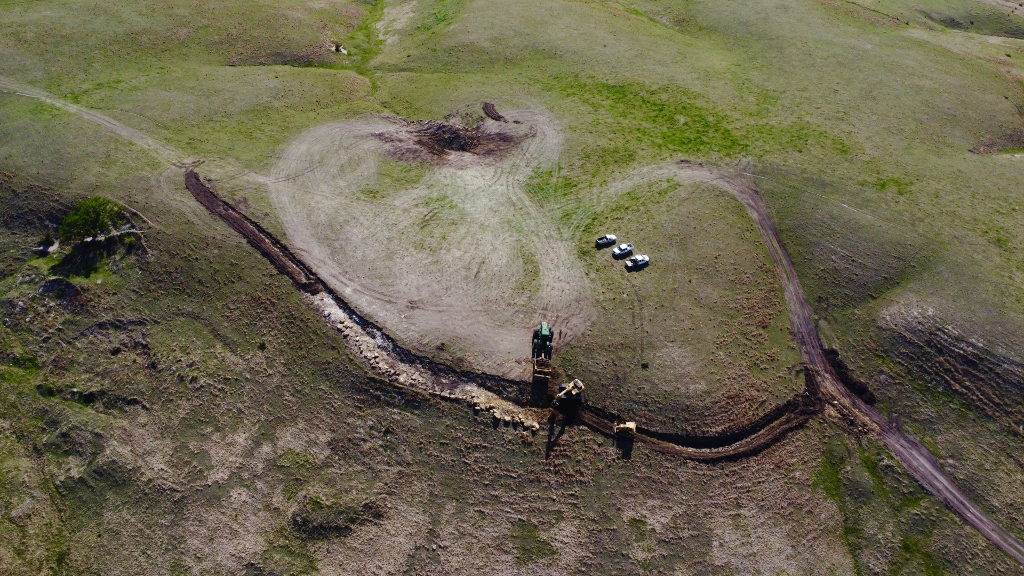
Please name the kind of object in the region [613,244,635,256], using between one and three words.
vehicle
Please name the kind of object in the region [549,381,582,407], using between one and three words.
work vehicle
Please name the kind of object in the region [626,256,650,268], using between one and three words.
vehicle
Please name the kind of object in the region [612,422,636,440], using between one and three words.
work vehicle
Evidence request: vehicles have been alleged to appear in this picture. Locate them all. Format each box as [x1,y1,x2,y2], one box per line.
[533,325,554,355]
[626,256,650,268]
[549,381,582,407]
[613,244,635,256]
[612,422,636,440]
[596,235,618,246]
